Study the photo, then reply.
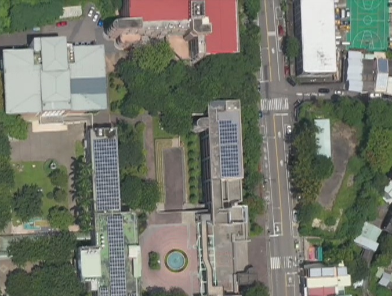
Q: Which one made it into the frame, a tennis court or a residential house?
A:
residential house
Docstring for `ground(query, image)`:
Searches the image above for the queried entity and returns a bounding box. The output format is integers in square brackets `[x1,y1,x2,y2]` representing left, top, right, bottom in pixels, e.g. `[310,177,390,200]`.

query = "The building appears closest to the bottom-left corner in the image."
[74,211,141,296]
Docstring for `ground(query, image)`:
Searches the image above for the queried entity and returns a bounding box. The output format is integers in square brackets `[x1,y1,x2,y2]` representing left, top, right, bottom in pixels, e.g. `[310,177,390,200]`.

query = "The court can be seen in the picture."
[346,0,389,50]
